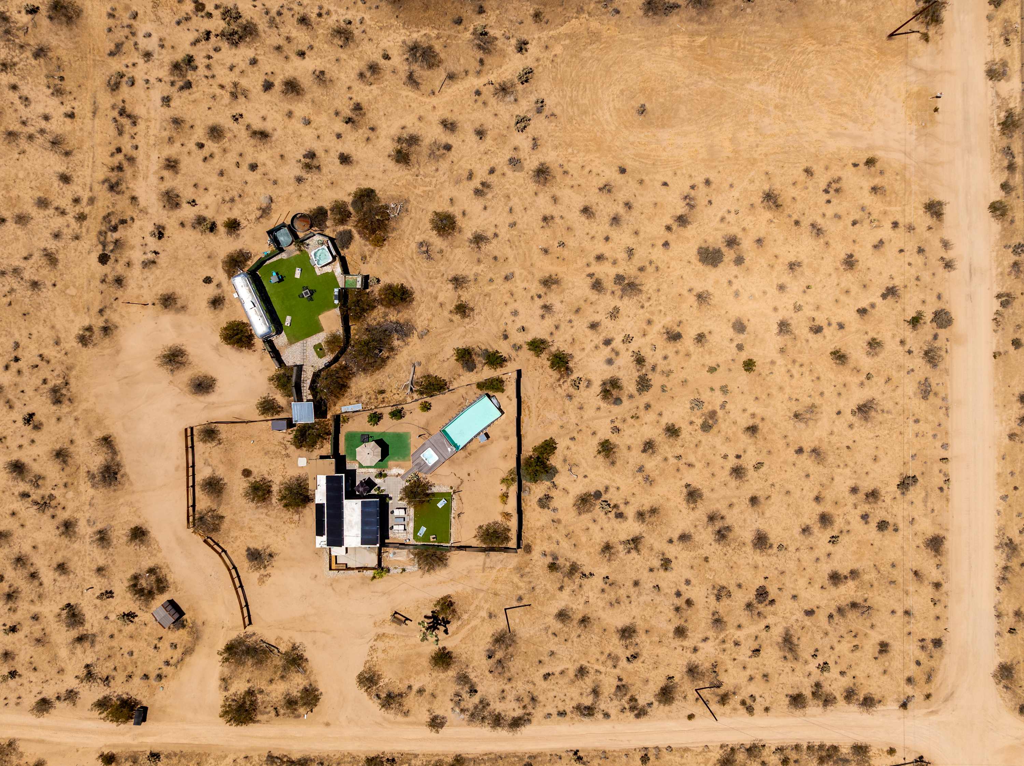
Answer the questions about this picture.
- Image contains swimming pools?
Yes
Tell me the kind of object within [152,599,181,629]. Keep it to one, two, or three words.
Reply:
shed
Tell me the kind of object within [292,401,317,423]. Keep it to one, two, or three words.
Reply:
shed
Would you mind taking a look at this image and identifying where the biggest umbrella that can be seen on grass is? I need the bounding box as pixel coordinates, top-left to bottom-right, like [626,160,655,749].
[357,434,380,465]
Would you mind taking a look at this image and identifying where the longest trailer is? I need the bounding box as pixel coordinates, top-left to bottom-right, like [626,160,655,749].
[233,268,276,341]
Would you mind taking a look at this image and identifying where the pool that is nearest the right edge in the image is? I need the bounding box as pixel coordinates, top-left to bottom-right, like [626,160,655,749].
[434,387,508,457]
